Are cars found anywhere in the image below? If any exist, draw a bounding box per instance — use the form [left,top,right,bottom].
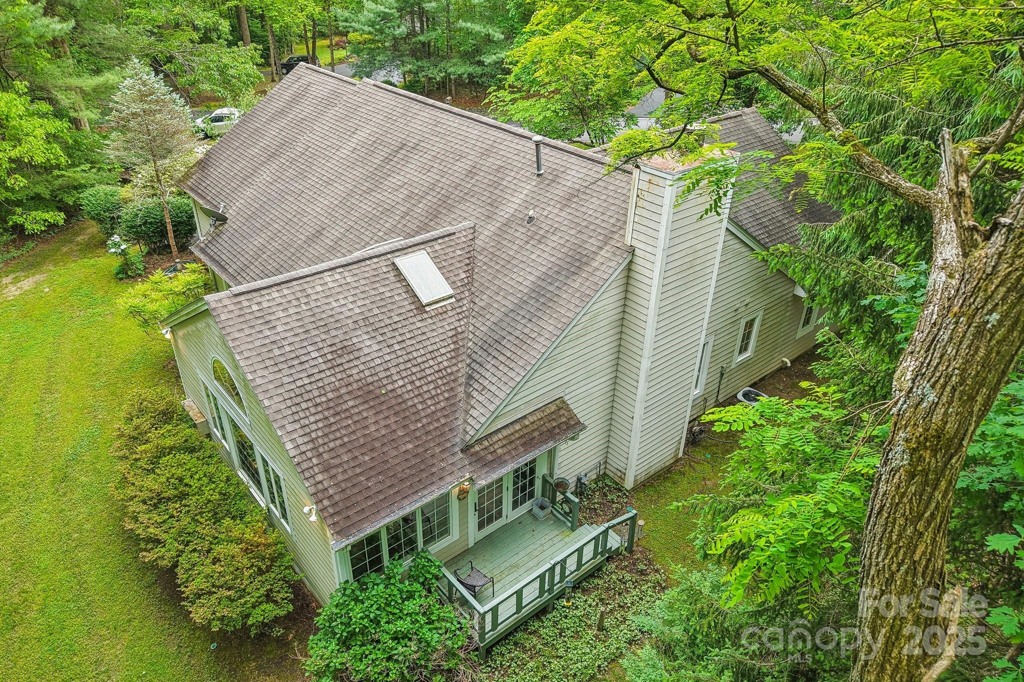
[188,104,250,137]
[271,39,335,68]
